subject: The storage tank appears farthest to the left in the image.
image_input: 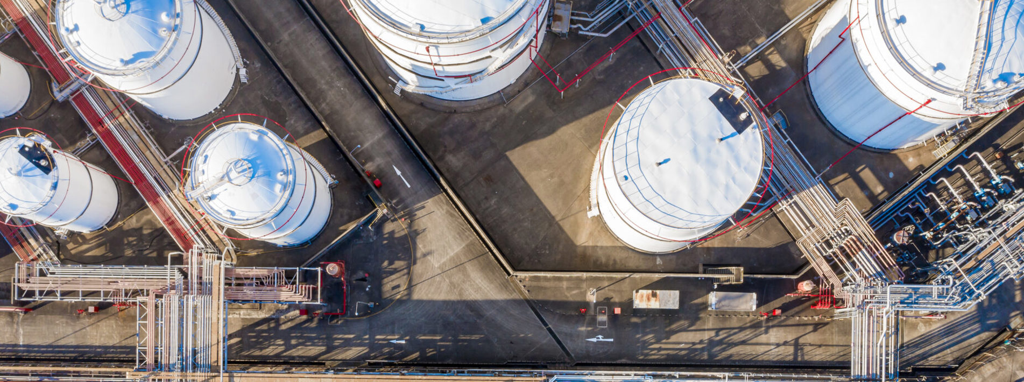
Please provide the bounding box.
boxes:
[0,51,44,120]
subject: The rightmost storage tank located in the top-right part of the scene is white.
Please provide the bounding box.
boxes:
[760,0,1024,176]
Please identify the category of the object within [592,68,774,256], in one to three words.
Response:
storage tank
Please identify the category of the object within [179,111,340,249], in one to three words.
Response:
storage tank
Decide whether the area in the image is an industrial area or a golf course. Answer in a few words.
industrial area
